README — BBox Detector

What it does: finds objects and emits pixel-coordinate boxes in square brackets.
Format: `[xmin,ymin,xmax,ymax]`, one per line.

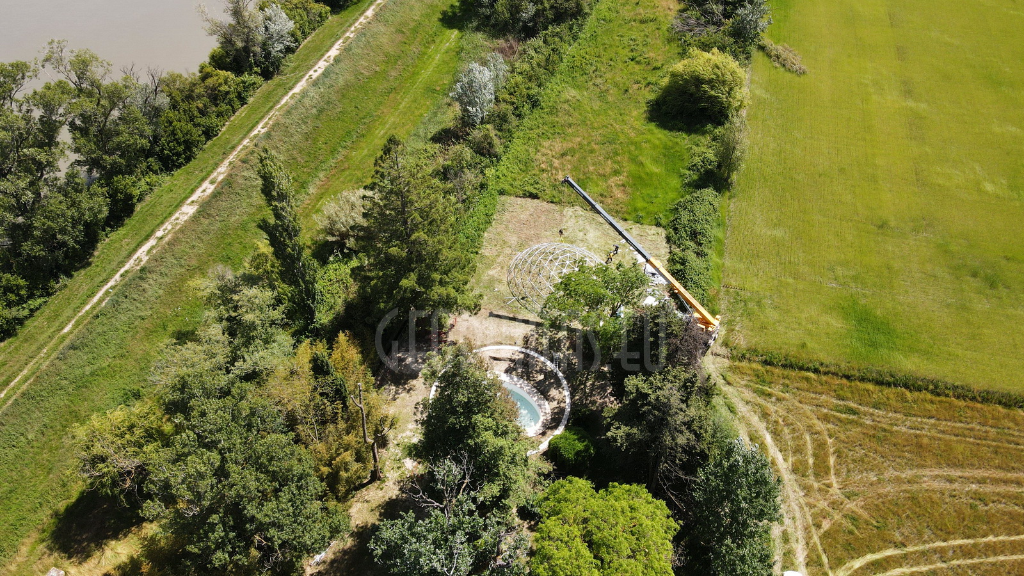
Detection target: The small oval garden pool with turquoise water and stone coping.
[463,370,549,438]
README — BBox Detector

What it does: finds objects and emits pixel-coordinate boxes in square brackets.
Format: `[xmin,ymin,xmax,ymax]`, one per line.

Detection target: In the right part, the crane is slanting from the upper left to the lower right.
[559,173,723,382]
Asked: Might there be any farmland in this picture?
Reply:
Yes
